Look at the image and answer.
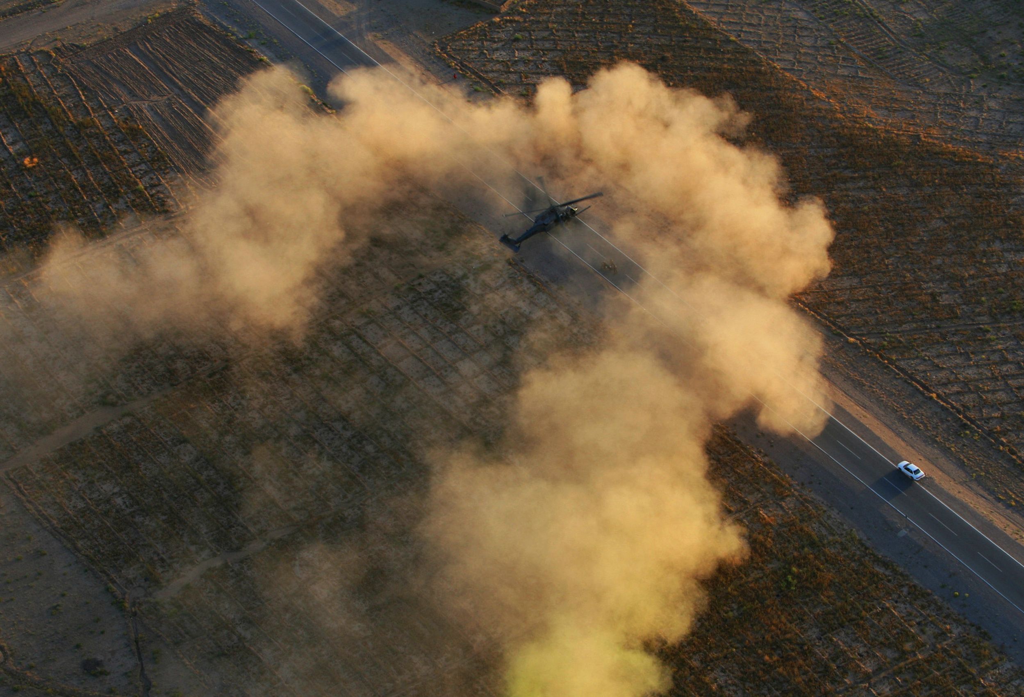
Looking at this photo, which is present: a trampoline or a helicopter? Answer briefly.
helicopter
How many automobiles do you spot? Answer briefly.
one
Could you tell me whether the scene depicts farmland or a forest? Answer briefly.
farmland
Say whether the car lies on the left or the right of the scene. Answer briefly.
right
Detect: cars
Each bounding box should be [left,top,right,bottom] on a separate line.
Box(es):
[898,459,925,480]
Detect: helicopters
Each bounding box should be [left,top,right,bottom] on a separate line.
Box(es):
[494,177,601,252]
